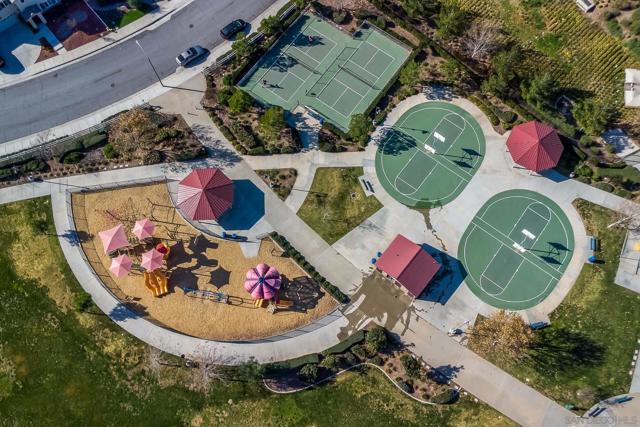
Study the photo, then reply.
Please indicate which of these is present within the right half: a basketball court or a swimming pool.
basketball court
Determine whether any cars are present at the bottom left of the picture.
No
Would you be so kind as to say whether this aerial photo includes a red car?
No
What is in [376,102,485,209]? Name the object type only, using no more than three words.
basketball court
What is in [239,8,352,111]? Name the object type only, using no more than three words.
sports court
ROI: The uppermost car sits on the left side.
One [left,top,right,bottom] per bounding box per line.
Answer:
[218,21,247,42]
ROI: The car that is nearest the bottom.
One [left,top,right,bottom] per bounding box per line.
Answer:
[174,48,204,68]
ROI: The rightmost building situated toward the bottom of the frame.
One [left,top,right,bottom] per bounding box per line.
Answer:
[373,234,441,299]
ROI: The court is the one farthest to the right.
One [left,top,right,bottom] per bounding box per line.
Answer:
[459,189,575,308]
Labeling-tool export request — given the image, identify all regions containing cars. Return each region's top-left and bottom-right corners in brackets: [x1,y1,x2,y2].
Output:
[218,21,247,42]
[174,48,204,68]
